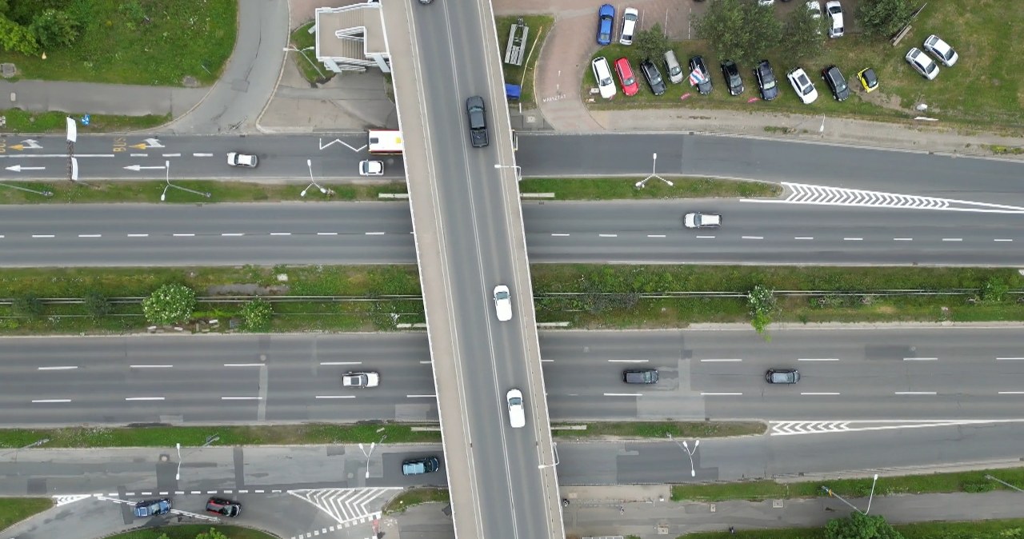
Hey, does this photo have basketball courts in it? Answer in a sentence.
No, the frame has no basketball court in it.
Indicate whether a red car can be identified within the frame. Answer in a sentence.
Yes, a red car appears in the view.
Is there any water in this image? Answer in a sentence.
No, water can't be seen anywhere here.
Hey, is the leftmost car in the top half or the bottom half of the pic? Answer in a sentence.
Seen from above, the leftmost car lies in the bottom half of the view.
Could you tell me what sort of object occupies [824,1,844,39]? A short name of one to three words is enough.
car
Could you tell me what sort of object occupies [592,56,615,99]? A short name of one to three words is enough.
car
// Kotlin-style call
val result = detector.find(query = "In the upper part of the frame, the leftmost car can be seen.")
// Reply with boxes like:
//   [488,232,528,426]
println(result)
[227,152,259,168]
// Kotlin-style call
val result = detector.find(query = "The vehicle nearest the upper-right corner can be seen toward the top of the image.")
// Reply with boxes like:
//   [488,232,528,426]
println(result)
[923,34,956,66]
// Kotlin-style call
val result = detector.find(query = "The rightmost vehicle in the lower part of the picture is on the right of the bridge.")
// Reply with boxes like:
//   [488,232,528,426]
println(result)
[765,368,799,385]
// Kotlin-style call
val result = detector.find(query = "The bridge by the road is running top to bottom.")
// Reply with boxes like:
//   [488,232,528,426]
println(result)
[378,0,585,539]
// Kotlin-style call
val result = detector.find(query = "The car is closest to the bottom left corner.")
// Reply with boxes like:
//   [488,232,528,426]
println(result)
[133,497,173,518]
